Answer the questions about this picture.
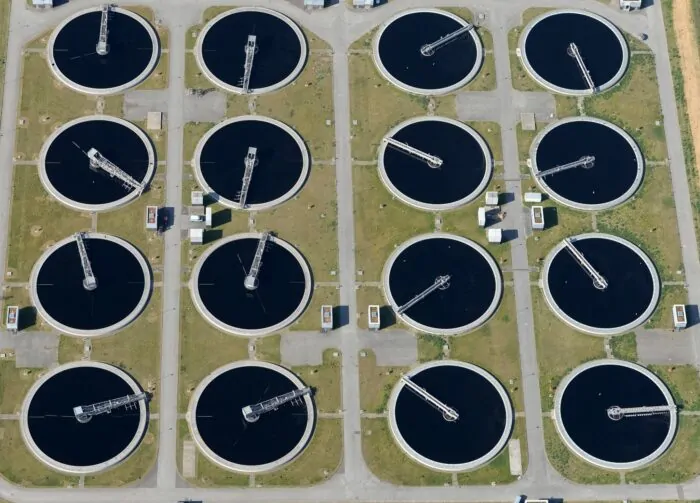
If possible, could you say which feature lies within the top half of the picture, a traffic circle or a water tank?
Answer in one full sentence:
What appears within the top half of the picture is a water tank.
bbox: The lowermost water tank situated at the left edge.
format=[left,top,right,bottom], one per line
[20,362,148,474]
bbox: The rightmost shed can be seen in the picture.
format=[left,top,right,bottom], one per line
[671,303,688,331]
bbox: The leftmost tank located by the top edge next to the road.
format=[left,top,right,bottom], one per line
[46,2,159,95]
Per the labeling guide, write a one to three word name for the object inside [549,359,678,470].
water tank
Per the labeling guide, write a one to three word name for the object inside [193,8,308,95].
water tank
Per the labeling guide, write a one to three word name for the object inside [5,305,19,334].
shed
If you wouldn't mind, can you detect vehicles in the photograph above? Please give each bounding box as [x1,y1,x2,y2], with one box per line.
[191,215,202,221]
[515,495,522,503]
